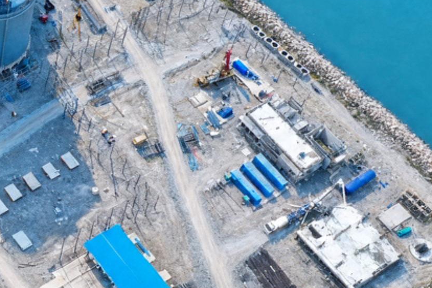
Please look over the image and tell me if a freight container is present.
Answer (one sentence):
Yes, there's a freight container down there.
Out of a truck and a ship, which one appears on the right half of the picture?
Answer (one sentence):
The feature located on the right half of the picture is a truck.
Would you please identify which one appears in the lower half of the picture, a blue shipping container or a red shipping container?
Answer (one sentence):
Looking in the lower half of the picture, you will find a blue shipping container.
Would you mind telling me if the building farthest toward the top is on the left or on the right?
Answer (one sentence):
It is on the right.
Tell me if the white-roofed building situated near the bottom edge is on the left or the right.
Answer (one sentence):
It is on the right.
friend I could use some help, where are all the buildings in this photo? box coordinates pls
[291,202,405,288]
[82,224,169,288]
[235,98,354,182]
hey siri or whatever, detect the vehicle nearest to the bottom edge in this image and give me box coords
[261,214,295,236]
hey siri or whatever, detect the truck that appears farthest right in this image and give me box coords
[286,180,346,225]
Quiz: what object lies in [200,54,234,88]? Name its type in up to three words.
crane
